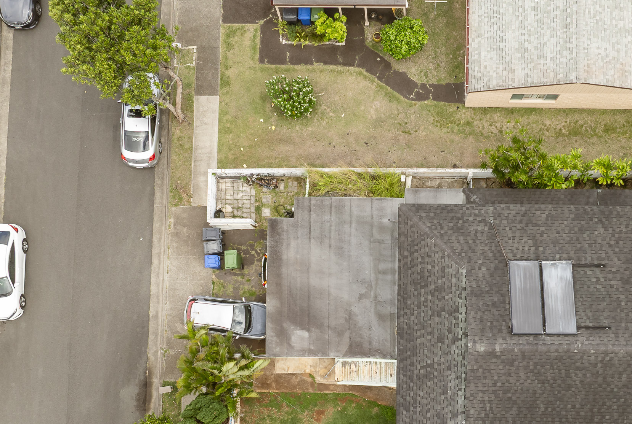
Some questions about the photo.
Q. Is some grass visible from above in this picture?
Yes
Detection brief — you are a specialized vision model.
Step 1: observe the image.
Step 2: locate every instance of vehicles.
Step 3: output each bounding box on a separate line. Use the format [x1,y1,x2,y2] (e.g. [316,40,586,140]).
[243,174,283,189]
[0,0,41,31]
[182,298,266,345]
[0,224,25,320]
[114,73,164,170]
